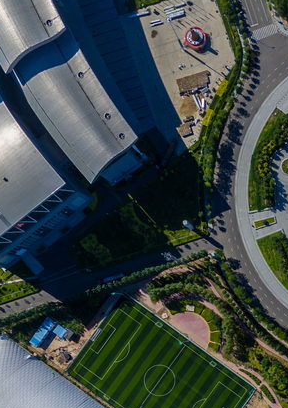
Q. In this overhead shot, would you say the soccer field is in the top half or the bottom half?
bottom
